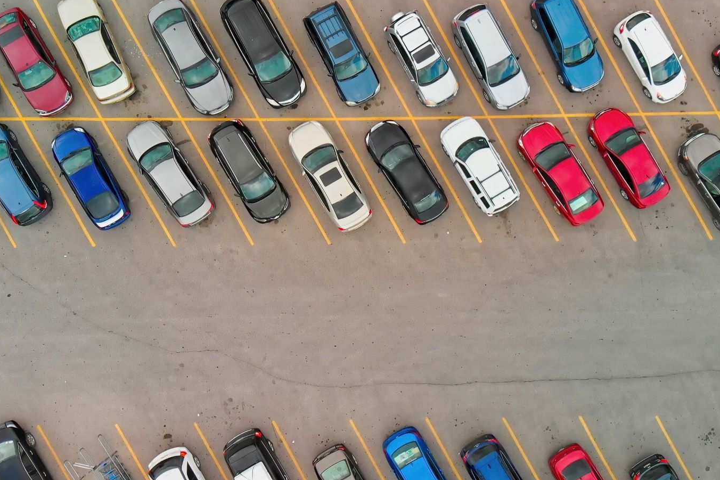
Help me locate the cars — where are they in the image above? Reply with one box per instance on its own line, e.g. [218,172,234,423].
[52,129,133,230]
[520,123,607,228]
[384,9,460,108]
[529,0,603,93]
[224,427,287,480]
[55,0,137,106]
[125,121,214,228]
[627,452,679,480]
[0,421,54,480]
[383,425,446,480]
[613,11,688,104]
[366,122,451,225]
[589,108,674,209]
[0,6,71,117]
[678,134,720,227]
[149,446,203,480]
[459,432,520,480]
[313,444,366,480]
[205,118,290,224]
[218,0,306,110]
[289,124,374,232]
[439,116,524,219]
[0,126,54,227]
[146,0,234,116]
[547,443,601,480]
[451,4,530,109]
[302,0,380,107]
